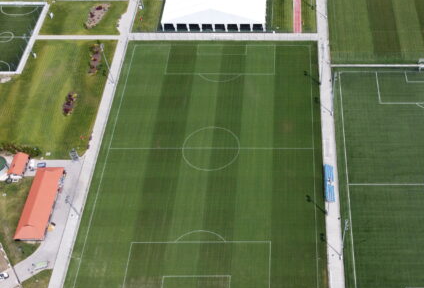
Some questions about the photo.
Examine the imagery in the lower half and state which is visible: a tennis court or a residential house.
residential house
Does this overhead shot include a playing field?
Yes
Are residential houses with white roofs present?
No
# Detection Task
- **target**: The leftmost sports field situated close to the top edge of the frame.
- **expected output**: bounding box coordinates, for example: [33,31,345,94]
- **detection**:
[0,5,45,71]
